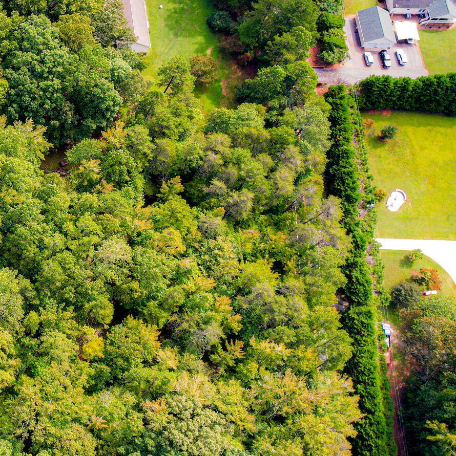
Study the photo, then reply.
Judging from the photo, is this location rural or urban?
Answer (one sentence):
From above, the setting appears rural.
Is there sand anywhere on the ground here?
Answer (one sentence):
No, there is no sand in the image.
